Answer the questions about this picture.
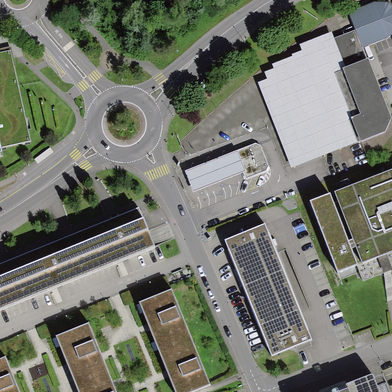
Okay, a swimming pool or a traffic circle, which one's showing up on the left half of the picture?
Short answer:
traffic circle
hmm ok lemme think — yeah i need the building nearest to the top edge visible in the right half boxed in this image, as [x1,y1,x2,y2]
[350,0,392,46]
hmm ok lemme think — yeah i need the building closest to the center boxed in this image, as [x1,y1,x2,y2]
[186,142,270,192]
